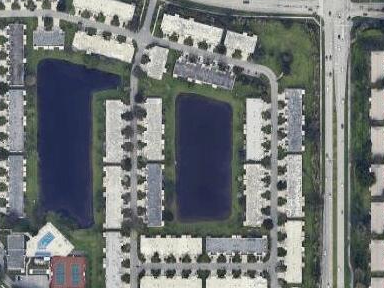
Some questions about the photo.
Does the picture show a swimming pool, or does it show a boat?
swimming pool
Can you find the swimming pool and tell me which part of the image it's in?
bottom left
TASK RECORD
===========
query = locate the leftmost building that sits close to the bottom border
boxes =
[7,234,24,274]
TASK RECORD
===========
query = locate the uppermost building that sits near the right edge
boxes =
[369,52,384,82]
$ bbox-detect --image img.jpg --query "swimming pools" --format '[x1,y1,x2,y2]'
[26,223,73,257]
